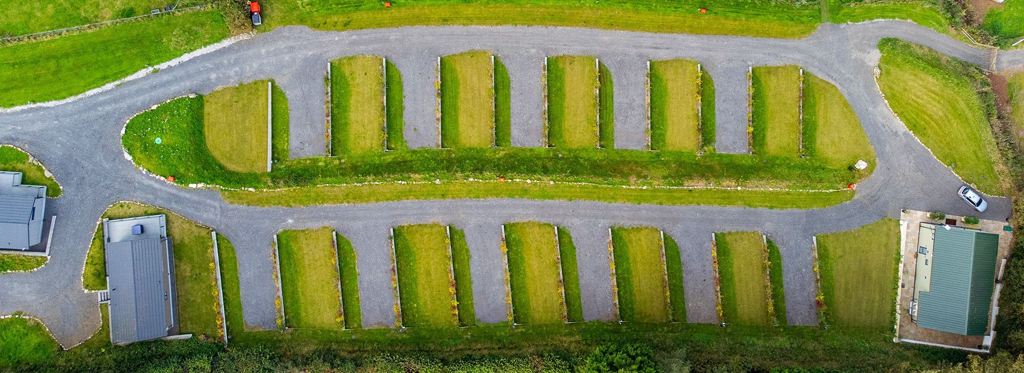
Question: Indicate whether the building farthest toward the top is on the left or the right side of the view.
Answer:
left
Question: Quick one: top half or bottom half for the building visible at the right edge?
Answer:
bottom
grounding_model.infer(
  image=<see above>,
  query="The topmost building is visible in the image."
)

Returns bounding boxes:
[0,172,48,250]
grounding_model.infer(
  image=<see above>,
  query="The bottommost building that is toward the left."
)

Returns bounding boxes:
[100,214,176,344]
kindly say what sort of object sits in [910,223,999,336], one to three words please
building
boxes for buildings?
[0,172,48,250]
[100,214,176,344]
[910,223,999,336]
